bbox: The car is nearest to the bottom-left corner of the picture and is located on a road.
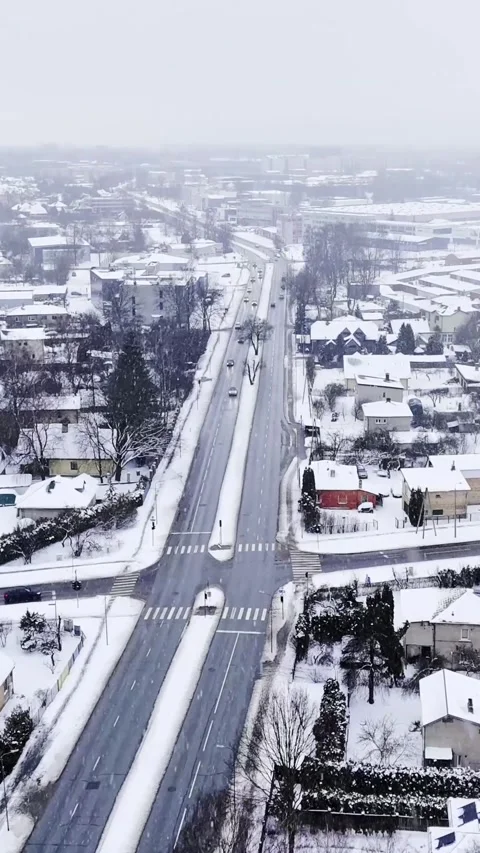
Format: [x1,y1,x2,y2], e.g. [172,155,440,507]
[2,587,40,605]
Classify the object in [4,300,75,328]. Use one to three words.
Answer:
house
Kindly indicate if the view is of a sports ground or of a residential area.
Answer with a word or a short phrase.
residential area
